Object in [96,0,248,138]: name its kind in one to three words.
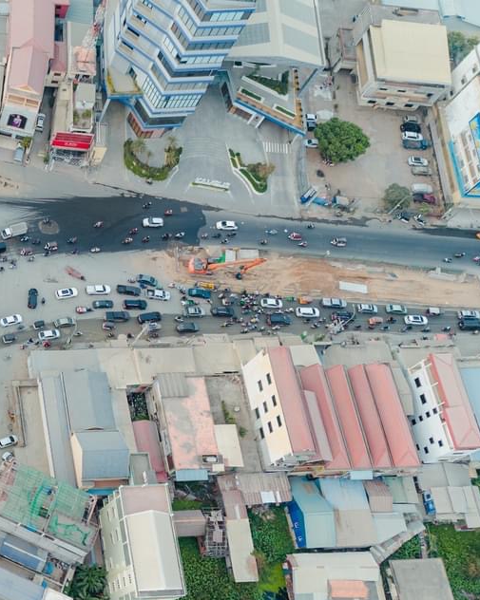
building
